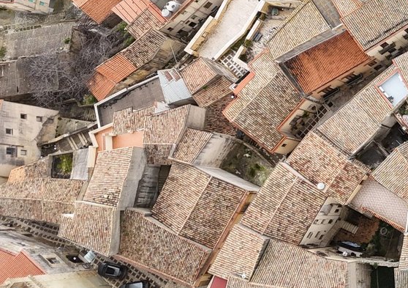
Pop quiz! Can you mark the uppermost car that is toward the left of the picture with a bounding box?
[98,262,129,278]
